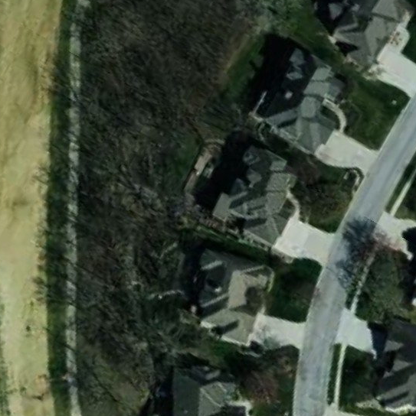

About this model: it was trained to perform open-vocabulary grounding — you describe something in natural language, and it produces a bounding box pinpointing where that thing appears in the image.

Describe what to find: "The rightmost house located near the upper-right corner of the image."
[330,0,416,72]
